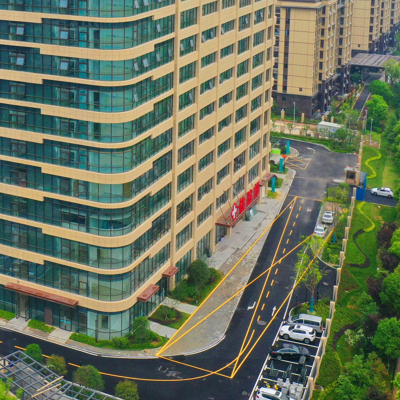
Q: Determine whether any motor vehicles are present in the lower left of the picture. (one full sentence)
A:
No, I can find no motor vehicle in the lower left of the picture.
